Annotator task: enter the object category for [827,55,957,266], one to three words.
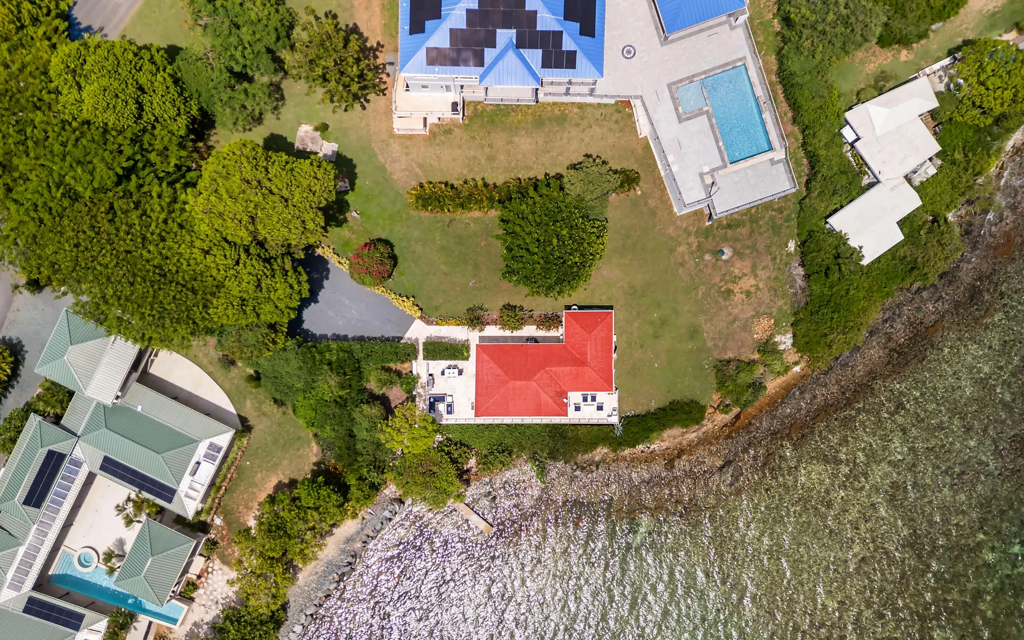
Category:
house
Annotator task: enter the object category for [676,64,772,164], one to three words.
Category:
swimming pool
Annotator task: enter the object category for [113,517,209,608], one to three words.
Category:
building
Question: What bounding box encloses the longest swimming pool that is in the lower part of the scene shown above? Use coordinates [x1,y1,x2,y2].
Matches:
[43,545,189,630]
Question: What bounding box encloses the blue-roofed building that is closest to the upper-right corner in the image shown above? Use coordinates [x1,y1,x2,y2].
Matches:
[653,0,748,44]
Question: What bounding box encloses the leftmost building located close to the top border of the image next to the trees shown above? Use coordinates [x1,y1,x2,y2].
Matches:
[391,0,603,133]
